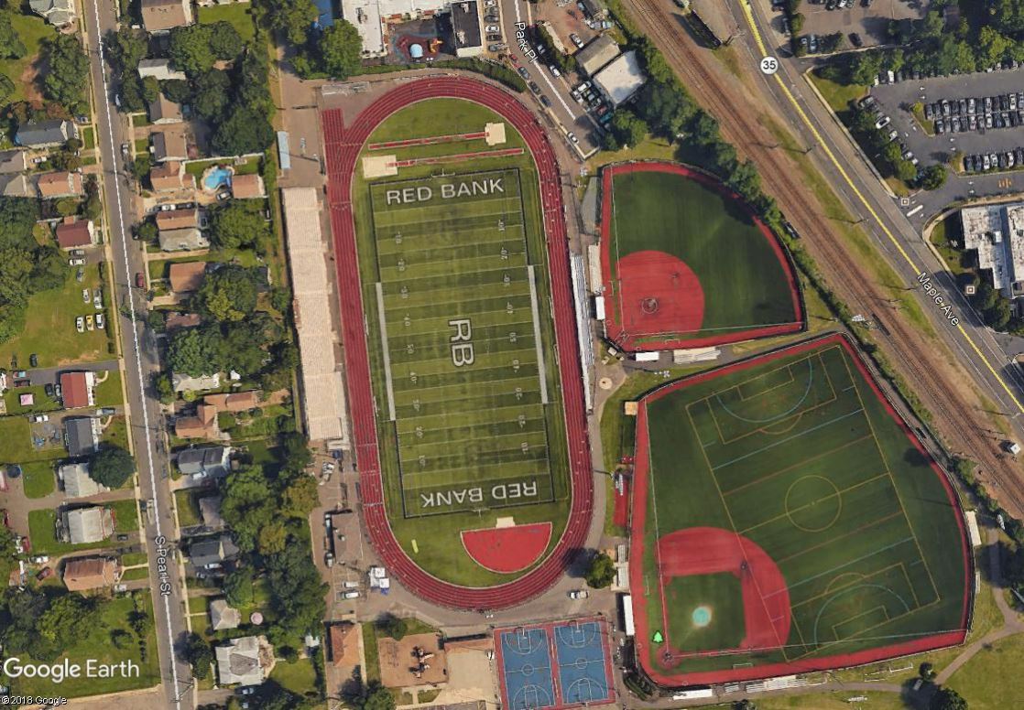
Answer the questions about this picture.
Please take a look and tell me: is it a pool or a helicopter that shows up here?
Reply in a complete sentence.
Visible in the photo is a pool.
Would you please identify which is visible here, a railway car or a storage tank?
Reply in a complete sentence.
Visible in the photo is a railway car.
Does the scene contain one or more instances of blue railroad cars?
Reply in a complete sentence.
No, there is no blue railroad car in the image.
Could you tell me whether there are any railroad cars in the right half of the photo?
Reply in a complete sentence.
Yes, looking in the right half of the photo, one can make out a railroad car.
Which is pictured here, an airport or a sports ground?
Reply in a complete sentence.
It's a sports ground.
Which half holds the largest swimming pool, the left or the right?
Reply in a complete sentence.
The largest swimming pool is on the left side of the image.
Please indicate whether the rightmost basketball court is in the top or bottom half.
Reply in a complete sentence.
The rightmost basketball court sits in the bottom half of the picture.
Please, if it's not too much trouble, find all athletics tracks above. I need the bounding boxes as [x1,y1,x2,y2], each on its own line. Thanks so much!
[322,74,596,611]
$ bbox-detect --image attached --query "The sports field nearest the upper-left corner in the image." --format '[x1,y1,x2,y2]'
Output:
[366,165,560,520]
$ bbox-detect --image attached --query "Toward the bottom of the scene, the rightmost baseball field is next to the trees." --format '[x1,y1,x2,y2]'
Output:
[629,332,975,688]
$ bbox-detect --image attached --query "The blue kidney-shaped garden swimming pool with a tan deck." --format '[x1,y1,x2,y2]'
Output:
[202,166,234,190]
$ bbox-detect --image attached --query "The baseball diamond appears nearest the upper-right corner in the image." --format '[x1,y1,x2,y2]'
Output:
[601,162,806,352]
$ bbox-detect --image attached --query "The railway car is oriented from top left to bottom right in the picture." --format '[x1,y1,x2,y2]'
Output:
[692,6,725,45]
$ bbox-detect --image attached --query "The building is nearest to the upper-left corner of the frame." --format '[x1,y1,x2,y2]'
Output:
[32,0,87,29]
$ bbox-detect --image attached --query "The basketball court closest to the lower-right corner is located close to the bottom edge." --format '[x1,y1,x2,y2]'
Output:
[551,617,616,710]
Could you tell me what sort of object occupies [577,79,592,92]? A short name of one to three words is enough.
vehicle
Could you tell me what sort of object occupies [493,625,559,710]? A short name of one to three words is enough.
basketball court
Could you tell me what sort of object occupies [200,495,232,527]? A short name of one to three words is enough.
house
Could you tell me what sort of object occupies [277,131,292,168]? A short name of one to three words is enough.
shed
